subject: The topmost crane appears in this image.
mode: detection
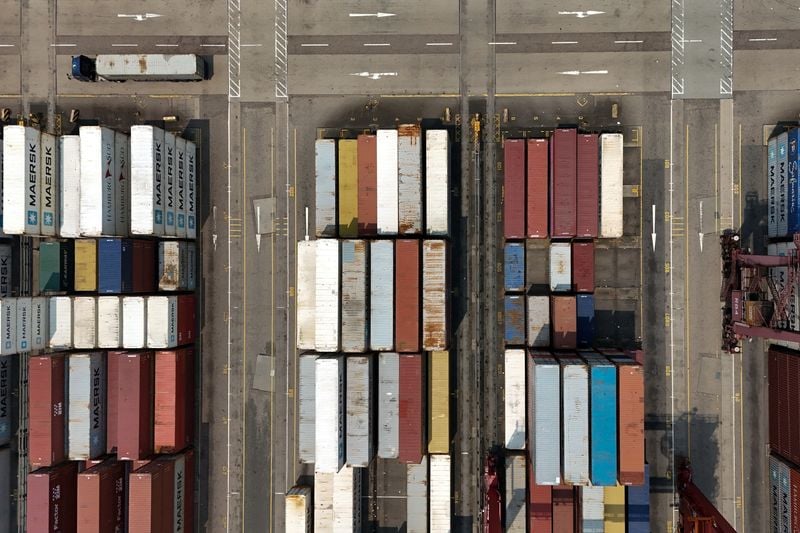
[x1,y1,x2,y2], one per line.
[720,234,800,352]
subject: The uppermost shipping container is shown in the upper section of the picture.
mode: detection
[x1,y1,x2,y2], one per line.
[97,54,204,81]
